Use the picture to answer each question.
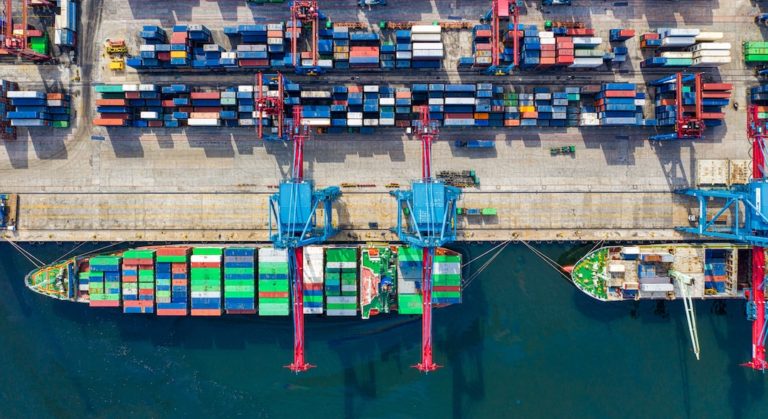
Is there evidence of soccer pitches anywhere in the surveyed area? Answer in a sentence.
No, this view has no soccer pitch in it.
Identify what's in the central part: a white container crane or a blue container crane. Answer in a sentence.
There is a blue container crane in the central part.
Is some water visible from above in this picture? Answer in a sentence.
Yes, some water is visible.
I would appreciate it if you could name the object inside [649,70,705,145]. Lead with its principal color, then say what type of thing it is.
red container crane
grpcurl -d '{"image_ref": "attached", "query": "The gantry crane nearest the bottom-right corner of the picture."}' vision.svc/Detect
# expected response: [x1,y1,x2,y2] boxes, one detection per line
[673,103,768,373]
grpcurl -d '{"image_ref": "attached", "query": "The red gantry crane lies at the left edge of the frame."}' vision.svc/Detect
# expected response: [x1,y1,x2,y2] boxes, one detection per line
[2,0,62,61]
